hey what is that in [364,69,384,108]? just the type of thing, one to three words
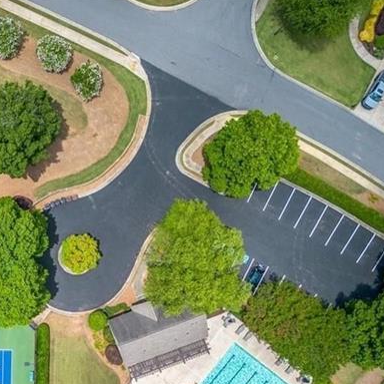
vehicle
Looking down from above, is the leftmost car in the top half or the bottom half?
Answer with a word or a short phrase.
bottom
